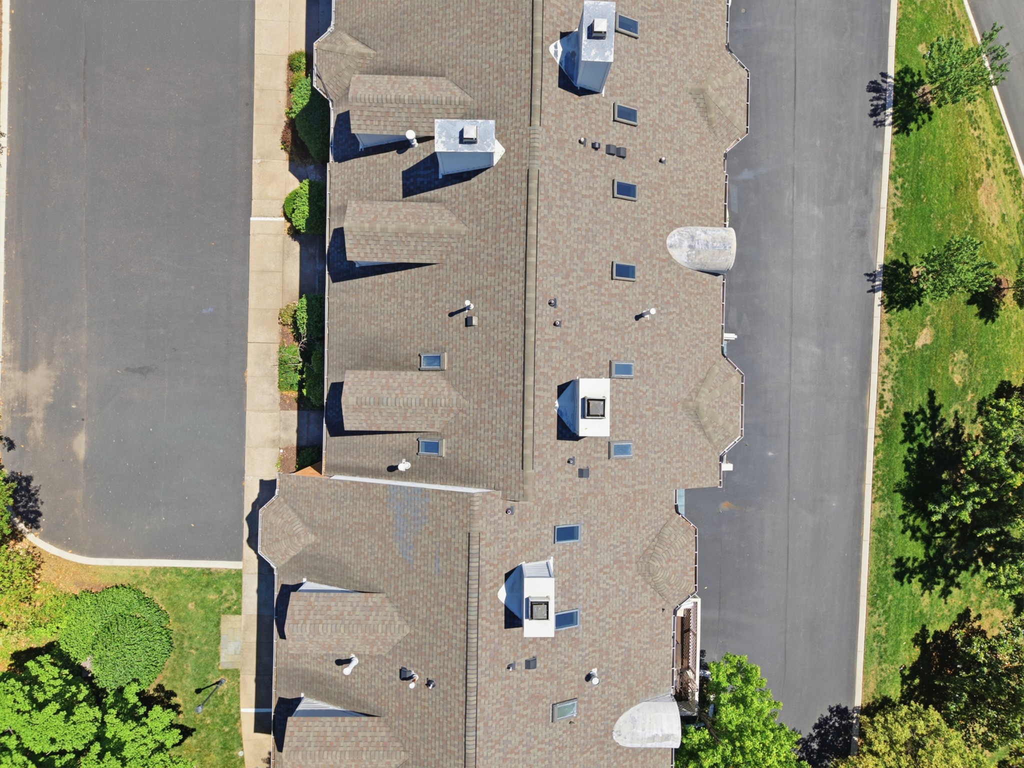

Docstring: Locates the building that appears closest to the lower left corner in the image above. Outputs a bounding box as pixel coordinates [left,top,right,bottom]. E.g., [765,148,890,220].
[256,462,700,768]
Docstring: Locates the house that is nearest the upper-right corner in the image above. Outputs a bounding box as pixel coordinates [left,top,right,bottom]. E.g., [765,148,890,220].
[312,0,752,501]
